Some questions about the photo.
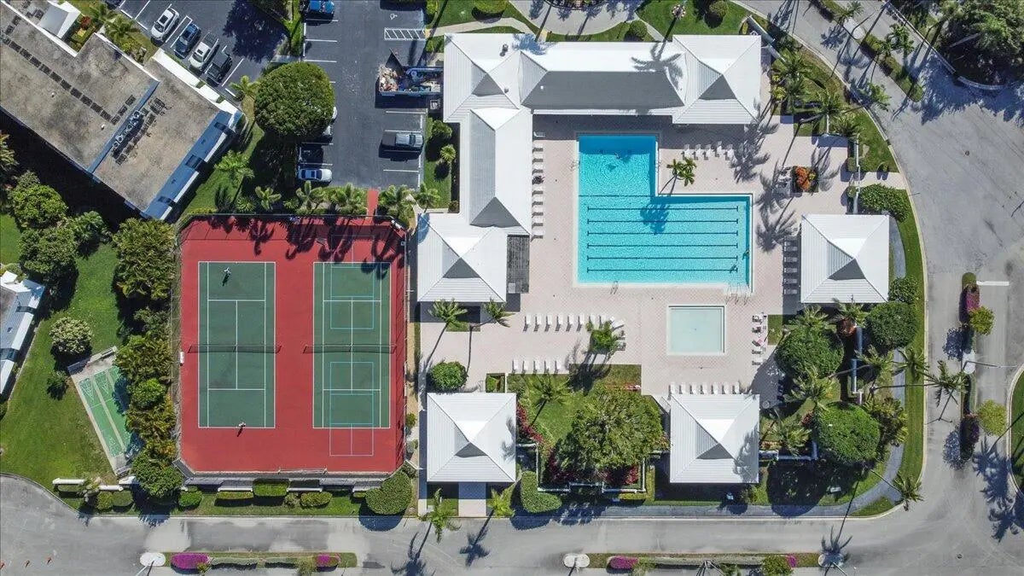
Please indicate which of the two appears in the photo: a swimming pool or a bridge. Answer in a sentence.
It is a swimming pool that can be seen here.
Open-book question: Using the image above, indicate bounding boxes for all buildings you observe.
[0,266,47,392]
[795,213,889,303]
[670,393,759,483]
[417,33,762,302]
[0,0,245,220]
[427,393,516,482]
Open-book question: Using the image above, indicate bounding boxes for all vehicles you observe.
[190,35,219,69]
[174,24,203,57]
[301,0,335,15]
[298,167,333,183]
[153,8,182,41]
[317,124,331,138]
[205,49,236,86]
[381,133,424,150]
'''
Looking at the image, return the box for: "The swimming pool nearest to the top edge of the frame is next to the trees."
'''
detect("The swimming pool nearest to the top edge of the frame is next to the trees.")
[573,132,755,295]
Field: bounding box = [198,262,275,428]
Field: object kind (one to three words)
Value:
tennis court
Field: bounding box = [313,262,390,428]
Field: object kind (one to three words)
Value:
tennis court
